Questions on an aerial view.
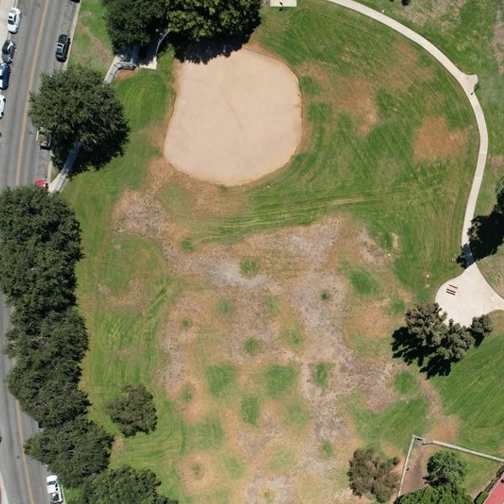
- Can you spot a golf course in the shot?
No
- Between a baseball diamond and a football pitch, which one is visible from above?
baseball diamond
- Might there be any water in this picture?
No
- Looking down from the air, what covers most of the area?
grass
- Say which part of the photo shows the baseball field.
top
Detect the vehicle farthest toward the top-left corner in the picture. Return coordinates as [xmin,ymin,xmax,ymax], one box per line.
[7,7,23,34]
